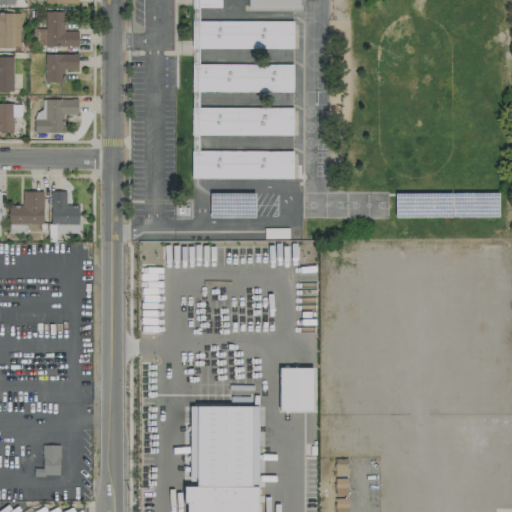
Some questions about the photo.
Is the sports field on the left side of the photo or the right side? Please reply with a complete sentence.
You can find the sports field on the right side of the picture.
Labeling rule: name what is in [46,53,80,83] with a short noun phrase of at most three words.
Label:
house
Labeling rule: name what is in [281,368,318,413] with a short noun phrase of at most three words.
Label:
building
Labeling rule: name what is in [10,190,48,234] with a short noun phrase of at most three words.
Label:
house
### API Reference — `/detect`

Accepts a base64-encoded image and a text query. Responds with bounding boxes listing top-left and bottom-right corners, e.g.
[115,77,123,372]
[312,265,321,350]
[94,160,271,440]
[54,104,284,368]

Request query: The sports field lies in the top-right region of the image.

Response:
[306,0,512,241]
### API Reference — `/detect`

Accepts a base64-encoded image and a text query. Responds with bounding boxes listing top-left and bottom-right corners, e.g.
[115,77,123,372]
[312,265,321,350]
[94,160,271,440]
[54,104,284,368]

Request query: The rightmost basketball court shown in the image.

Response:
[348,193,389,218]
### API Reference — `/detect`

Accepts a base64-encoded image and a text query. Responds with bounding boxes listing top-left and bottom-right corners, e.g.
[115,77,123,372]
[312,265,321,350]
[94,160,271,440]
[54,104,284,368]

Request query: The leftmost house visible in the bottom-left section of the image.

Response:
[36,446,62,478]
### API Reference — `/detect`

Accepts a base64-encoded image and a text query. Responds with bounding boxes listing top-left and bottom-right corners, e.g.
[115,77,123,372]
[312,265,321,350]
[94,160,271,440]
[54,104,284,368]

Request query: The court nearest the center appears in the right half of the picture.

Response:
[306,193,348,218]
